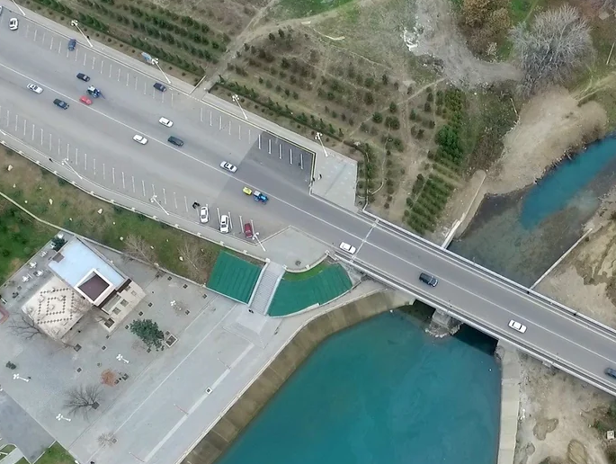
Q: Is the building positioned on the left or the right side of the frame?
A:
left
